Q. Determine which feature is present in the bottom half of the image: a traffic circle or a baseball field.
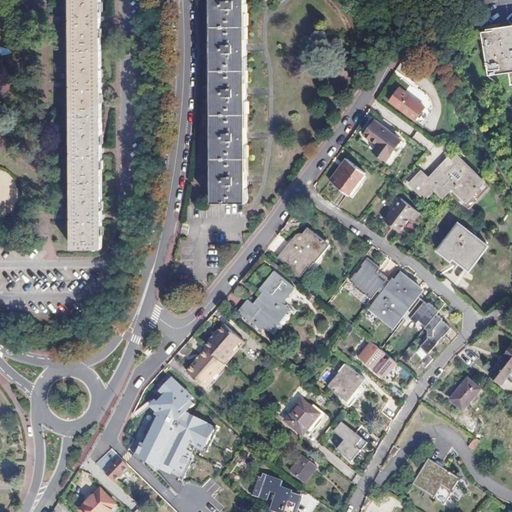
traffic circle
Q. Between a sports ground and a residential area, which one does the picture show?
residential area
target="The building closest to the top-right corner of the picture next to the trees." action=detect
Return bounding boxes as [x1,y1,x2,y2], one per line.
[481,26,512,86]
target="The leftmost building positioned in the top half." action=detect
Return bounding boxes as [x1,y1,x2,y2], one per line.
[66,0,106,252]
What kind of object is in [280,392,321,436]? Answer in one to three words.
house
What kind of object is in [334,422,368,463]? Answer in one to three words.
house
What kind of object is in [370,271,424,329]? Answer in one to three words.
building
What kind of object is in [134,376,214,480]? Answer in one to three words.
building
